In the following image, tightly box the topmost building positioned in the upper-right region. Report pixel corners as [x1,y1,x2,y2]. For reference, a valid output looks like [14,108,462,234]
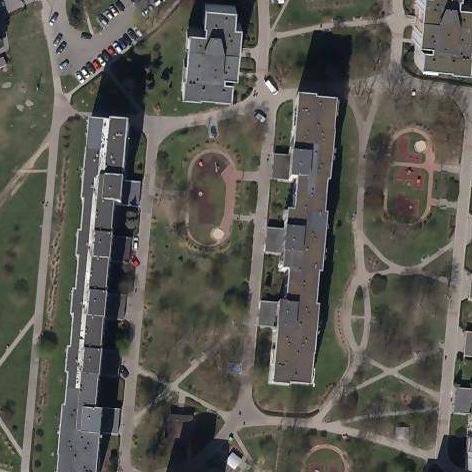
[412,0,472,81]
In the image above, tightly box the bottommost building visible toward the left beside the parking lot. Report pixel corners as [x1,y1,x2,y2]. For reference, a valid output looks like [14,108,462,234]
[56,116,129,472]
